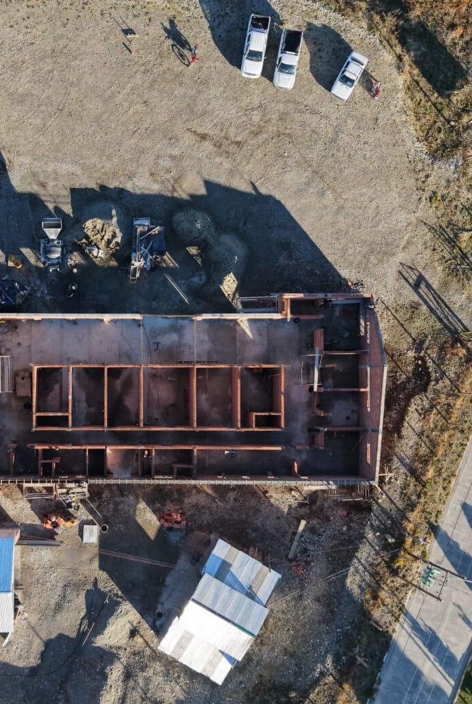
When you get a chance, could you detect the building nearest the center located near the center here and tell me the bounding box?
[0,295,388,486]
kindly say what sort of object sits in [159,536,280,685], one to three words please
shed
